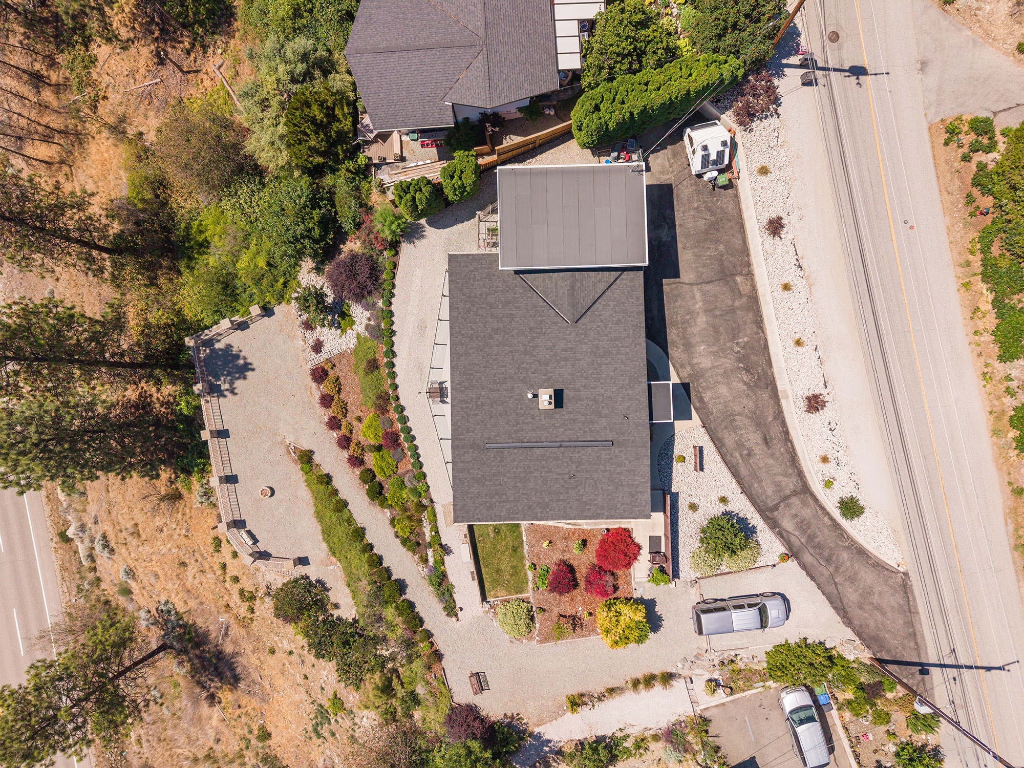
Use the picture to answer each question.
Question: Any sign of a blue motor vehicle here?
No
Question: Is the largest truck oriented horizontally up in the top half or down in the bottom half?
bottom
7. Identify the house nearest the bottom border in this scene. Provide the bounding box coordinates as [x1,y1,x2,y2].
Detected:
[447,161,675,525]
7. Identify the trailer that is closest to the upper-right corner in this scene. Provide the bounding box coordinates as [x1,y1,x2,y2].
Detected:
[684,124,732,195]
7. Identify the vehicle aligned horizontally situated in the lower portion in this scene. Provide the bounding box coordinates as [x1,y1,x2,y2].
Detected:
[684,591,789,638]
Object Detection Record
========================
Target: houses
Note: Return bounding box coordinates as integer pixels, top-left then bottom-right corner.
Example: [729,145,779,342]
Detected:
[345,0,560,139]
[447,161,675,525]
